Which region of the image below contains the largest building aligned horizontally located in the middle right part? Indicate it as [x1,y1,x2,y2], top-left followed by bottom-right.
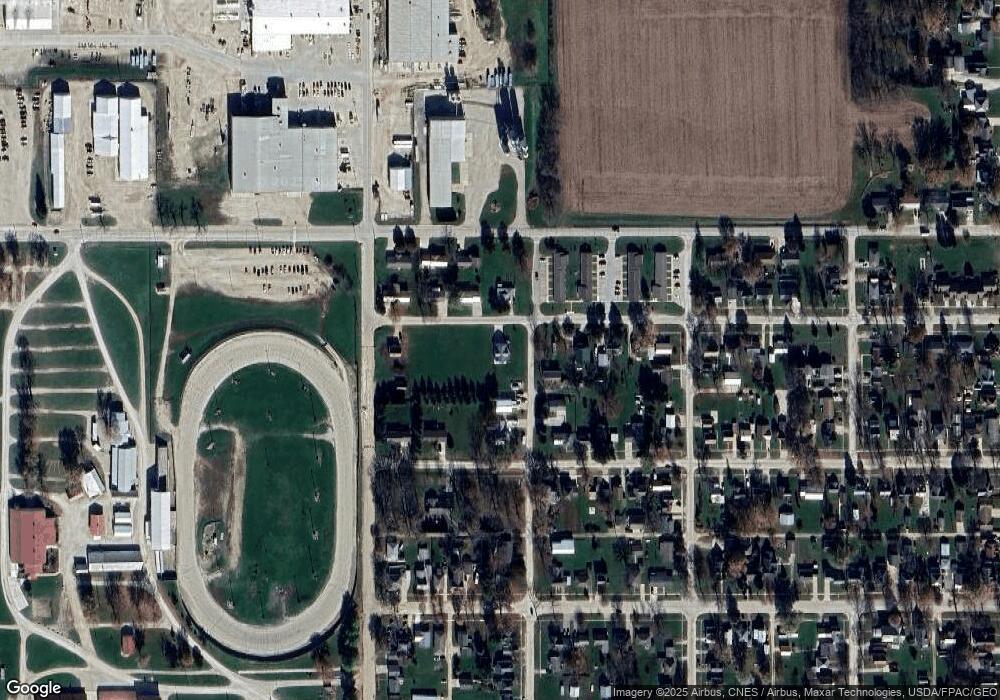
[935,271,999,296]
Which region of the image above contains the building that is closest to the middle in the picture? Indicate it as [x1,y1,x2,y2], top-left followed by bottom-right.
[493,345,512,364]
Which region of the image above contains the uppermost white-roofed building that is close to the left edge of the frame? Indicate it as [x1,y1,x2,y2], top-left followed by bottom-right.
[4,0,52,29]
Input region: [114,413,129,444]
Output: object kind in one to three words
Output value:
building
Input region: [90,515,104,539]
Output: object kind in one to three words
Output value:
barn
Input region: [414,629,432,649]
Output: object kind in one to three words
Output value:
house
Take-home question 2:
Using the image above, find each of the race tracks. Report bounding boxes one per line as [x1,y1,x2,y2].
[175,326,360,662]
